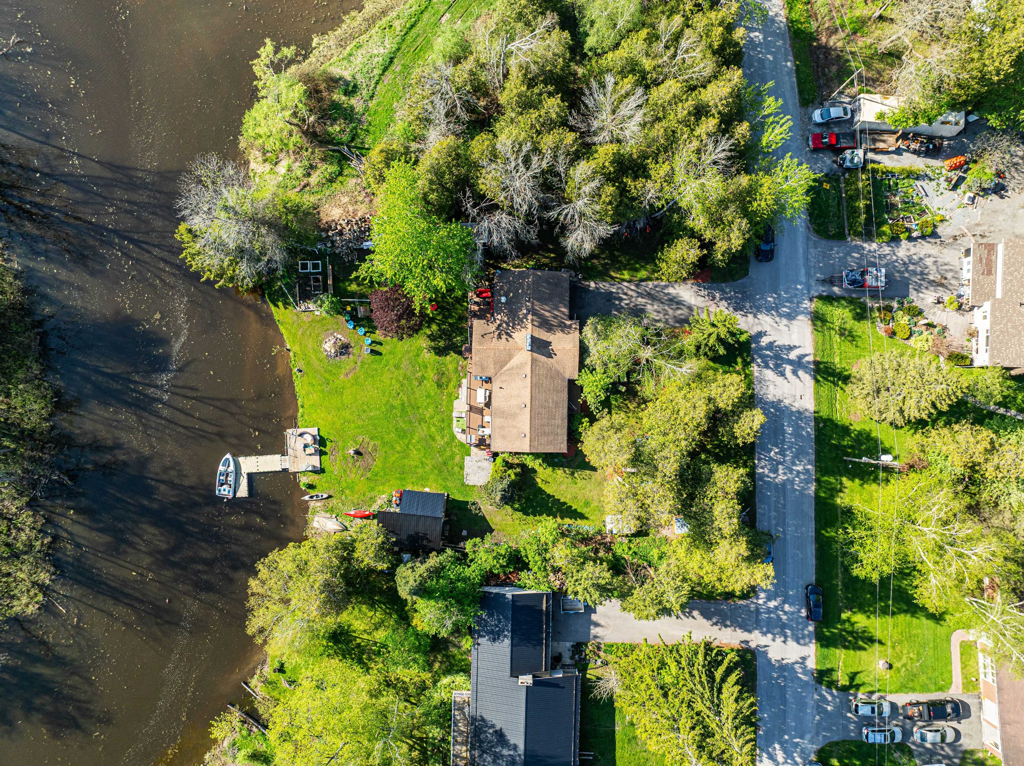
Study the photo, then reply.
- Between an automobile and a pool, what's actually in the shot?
automobile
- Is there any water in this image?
Yes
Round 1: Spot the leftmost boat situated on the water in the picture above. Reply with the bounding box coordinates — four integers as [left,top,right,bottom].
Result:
[216,454,236,500]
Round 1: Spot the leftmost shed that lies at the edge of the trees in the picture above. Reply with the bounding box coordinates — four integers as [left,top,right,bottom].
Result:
[377,486,449,550]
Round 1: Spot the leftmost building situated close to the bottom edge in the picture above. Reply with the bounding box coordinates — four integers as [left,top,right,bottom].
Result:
[471,586,581,766]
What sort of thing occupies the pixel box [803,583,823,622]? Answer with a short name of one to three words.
car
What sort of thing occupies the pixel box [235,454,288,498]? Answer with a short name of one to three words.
pier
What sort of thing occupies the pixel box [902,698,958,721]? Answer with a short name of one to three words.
truck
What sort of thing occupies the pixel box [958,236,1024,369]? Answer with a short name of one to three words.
house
